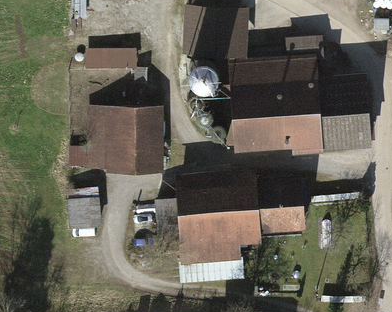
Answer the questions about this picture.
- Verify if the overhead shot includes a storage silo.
Yes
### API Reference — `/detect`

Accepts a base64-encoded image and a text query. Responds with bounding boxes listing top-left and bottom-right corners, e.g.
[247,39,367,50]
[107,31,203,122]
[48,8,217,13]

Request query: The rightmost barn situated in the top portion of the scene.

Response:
[324,73,372,151]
